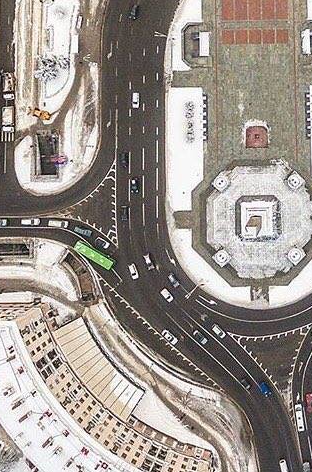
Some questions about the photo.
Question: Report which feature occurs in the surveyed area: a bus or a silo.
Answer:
bus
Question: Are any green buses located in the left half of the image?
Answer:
Yes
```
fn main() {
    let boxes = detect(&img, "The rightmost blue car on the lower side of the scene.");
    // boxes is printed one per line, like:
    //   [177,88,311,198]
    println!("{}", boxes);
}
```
[256,380,270,399]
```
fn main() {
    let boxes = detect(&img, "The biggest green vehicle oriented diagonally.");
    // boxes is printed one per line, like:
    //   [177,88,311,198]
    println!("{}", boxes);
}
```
[70,241,114,274]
